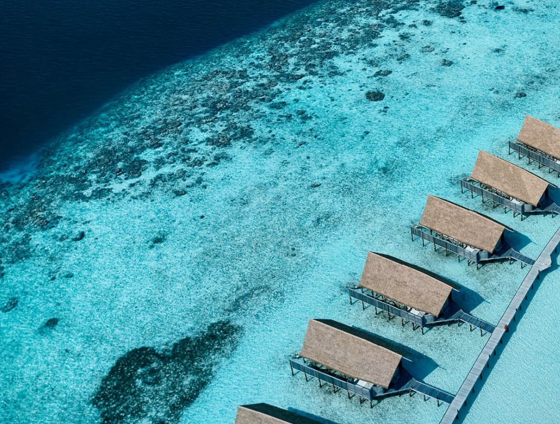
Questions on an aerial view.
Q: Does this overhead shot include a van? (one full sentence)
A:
No, there's no van here.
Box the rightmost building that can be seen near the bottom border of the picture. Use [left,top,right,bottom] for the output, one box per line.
[286,318,415,413]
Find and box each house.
[506,115,560,181]
[286,318,415,413]
[407,194,514,274]
[345,251,462,339]
[233,404,314,424]
[459,150,557,225]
